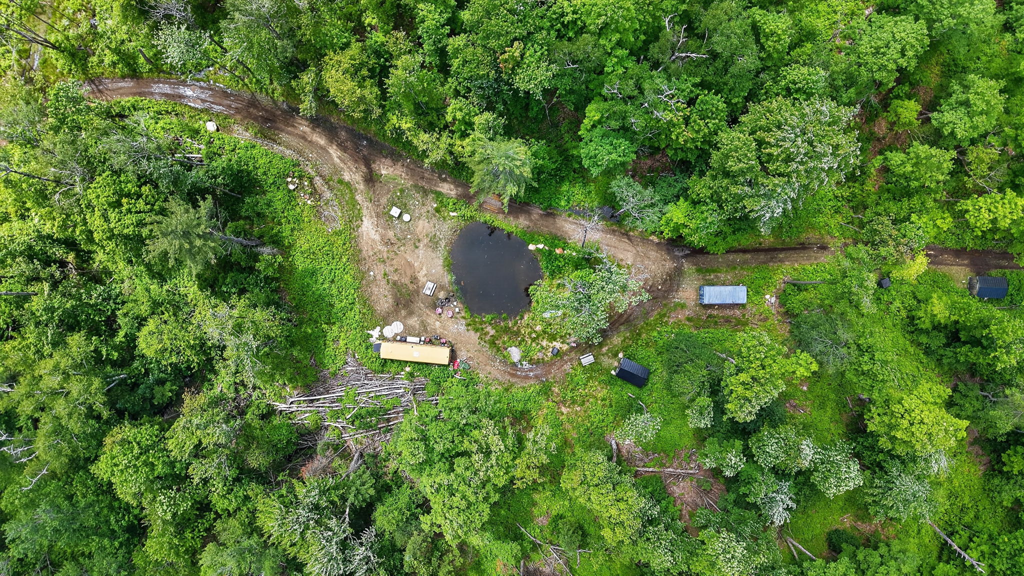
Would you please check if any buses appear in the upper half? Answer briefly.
No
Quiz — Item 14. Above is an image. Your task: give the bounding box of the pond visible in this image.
[453,224,541,318]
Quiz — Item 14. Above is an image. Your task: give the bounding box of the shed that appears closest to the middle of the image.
[615,358,649,387]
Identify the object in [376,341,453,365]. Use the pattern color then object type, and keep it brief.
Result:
white bus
